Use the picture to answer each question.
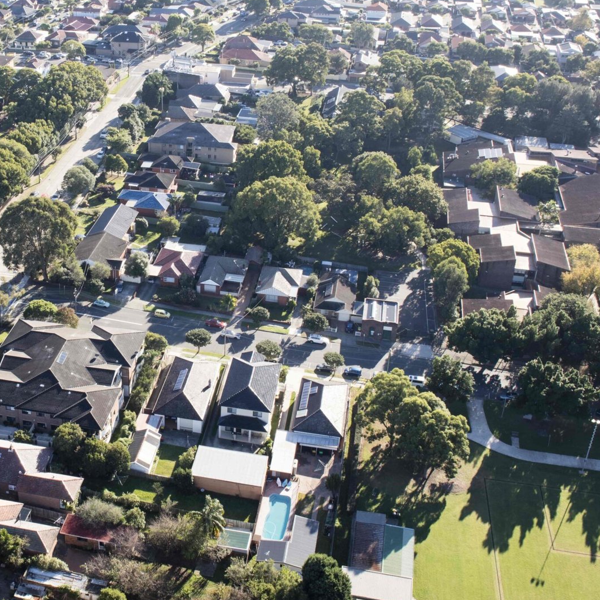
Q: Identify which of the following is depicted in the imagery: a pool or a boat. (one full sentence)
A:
The one in the frame is a pool.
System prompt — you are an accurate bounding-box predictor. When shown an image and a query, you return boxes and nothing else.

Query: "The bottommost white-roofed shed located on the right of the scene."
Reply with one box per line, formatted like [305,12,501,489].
[348,564,413,600]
